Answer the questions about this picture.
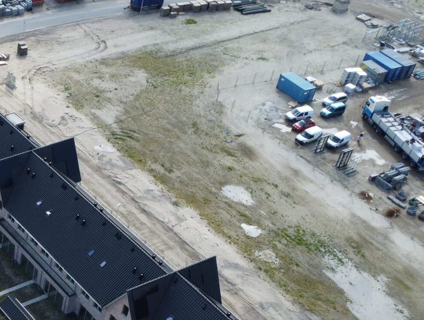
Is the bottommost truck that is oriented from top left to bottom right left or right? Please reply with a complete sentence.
You can find the bottommost truck that is oriented from top left to bottom right on the right side of the picture.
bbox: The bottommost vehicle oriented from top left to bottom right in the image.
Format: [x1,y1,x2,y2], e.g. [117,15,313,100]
[364,97,424,168]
